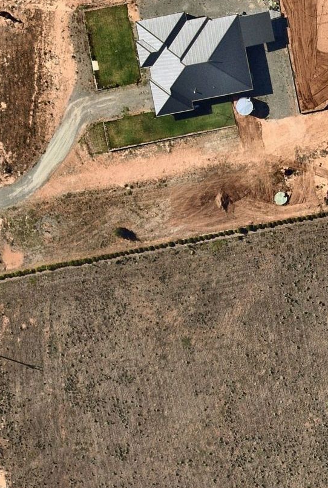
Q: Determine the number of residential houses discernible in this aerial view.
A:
1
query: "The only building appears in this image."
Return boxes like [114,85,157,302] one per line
[136,10,275,116]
